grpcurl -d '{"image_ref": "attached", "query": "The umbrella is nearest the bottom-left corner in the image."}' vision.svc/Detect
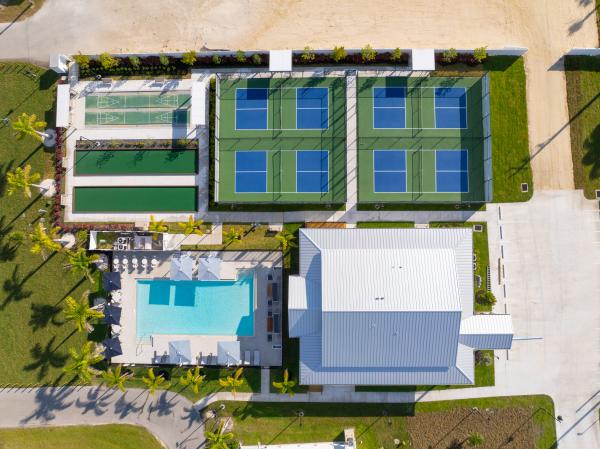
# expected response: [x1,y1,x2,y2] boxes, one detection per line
[101,335,125,359]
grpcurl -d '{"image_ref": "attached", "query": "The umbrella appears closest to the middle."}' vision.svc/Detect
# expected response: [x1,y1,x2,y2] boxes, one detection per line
[197,256,222,280]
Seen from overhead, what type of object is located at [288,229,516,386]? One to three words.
building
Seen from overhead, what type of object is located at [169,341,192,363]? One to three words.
umbrella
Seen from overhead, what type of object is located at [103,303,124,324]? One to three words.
umbrella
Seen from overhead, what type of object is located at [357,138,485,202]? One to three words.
sports court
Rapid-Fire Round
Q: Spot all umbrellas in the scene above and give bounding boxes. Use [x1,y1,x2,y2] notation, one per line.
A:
[197,256,222,280]
[103,271,123,291]
[169,341,192,363]
[169,255,194,280]
[101,335,125,359]
[103,303,124,324]
[217,341,240,363]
